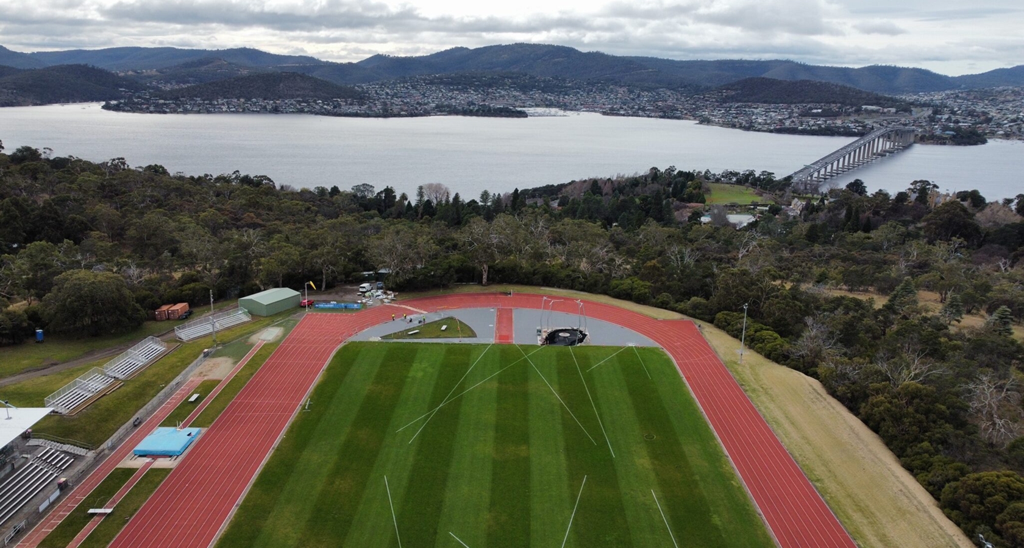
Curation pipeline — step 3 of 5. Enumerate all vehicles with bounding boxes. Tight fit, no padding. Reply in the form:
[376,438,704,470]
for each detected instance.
[357,280,375,290]
[378,278,389,287]
[302,298,317,306]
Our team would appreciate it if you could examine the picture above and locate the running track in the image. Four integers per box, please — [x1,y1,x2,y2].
[108,294,857,548]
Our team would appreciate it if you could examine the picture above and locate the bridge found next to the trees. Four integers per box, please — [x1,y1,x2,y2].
[774,129,938,187]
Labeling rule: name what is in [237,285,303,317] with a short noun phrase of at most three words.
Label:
shed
